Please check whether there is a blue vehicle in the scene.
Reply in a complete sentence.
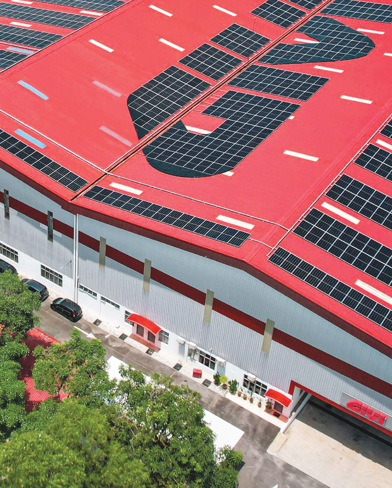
No, there's no blue vehicle here.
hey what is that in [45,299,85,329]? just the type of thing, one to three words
car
